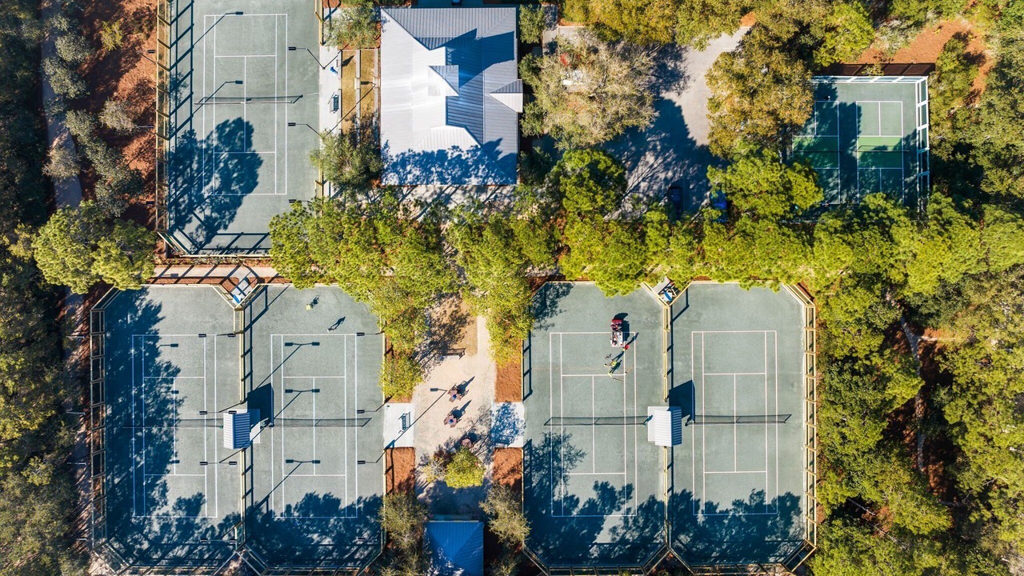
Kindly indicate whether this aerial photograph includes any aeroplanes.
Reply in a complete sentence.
No, this view has no aeroplane in it.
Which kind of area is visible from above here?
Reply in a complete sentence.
The area seen from above is a sports ground.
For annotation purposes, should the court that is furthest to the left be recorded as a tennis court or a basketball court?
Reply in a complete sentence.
From above, the court that is furthest to the left can be identified as a tennis court.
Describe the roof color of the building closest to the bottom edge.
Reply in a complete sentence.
The color of the roof on the building closest to the bottom edge is blue.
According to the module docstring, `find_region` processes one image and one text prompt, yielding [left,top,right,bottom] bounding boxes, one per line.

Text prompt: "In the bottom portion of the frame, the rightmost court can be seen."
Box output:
[666,283,805,565]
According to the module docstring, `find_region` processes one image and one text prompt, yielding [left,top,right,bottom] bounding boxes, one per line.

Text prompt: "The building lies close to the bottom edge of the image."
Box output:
[428,511,485,576]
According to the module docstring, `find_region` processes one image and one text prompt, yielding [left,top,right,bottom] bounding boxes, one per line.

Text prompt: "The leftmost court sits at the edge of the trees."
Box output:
[106,286,245,564]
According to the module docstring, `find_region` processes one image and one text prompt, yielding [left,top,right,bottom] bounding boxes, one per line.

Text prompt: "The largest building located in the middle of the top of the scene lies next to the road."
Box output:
[380,6,523,186]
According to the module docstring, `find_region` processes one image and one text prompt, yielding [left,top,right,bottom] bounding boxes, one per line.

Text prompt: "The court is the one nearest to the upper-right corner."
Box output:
[778,83,918,220]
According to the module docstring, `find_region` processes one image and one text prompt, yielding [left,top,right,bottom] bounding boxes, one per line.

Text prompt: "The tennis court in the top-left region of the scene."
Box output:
[171,0,321,253]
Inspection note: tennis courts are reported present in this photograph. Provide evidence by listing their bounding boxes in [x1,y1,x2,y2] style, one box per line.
[171,0,321,253]
[666,283,805,565]
[106,286,245,564]
[244,286,385,564]
[525,283,667,565]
